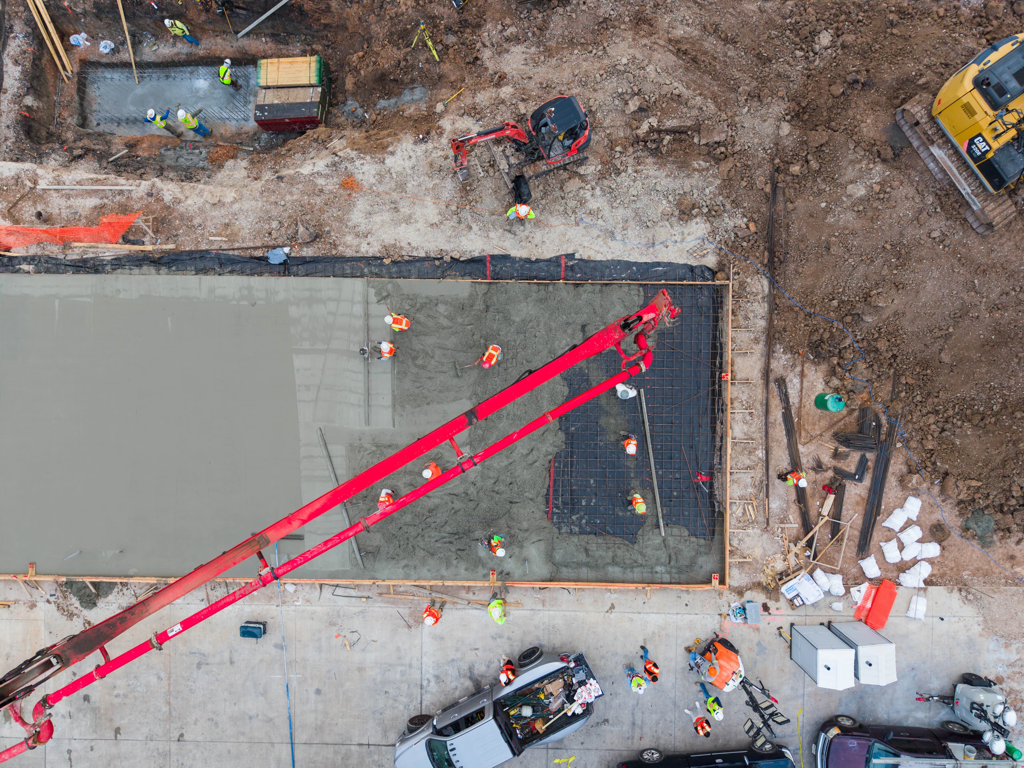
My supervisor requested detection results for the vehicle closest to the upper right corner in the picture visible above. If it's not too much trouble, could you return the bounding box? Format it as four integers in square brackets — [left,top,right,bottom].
[886,27,1024,239]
